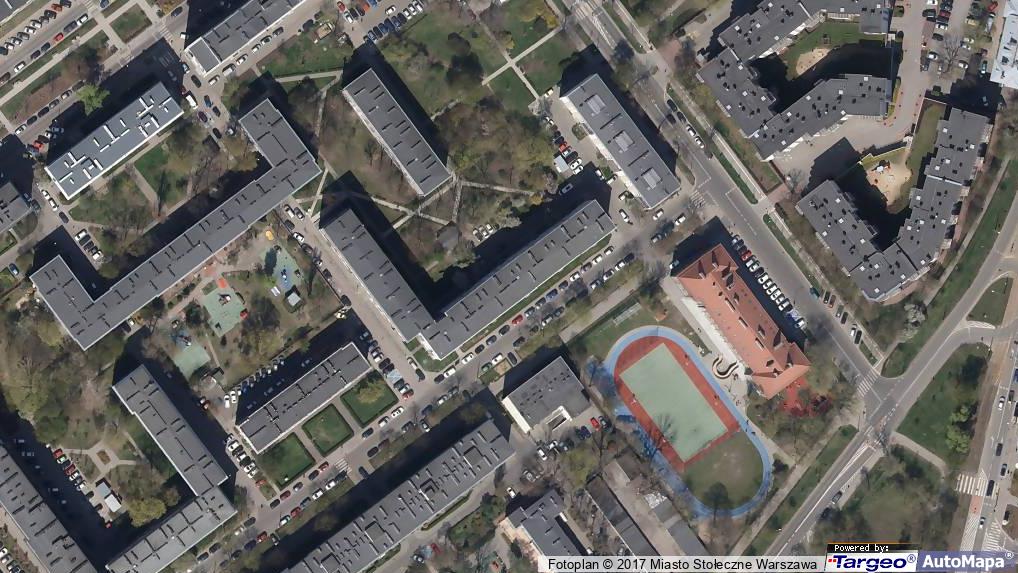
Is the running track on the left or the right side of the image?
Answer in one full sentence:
It is on the right.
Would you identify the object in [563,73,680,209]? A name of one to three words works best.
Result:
building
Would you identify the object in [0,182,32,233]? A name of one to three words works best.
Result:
building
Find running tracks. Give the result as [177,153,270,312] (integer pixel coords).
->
[603,324,775,521]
